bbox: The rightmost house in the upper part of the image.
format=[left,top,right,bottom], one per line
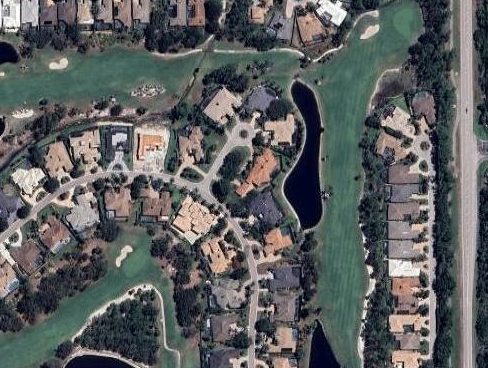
[413,92,437,122]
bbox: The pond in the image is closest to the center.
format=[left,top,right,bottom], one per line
[284,81,322,229]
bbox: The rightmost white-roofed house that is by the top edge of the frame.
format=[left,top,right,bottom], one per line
[317,0,347,26]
